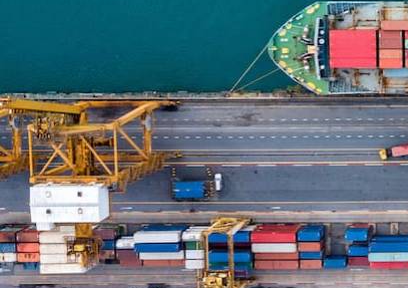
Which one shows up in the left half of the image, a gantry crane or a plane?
gantry crane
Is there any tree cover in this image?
No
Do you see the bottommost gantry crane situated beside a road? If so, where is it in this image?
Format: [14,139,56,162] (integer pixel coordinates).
[200,218,252,288]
